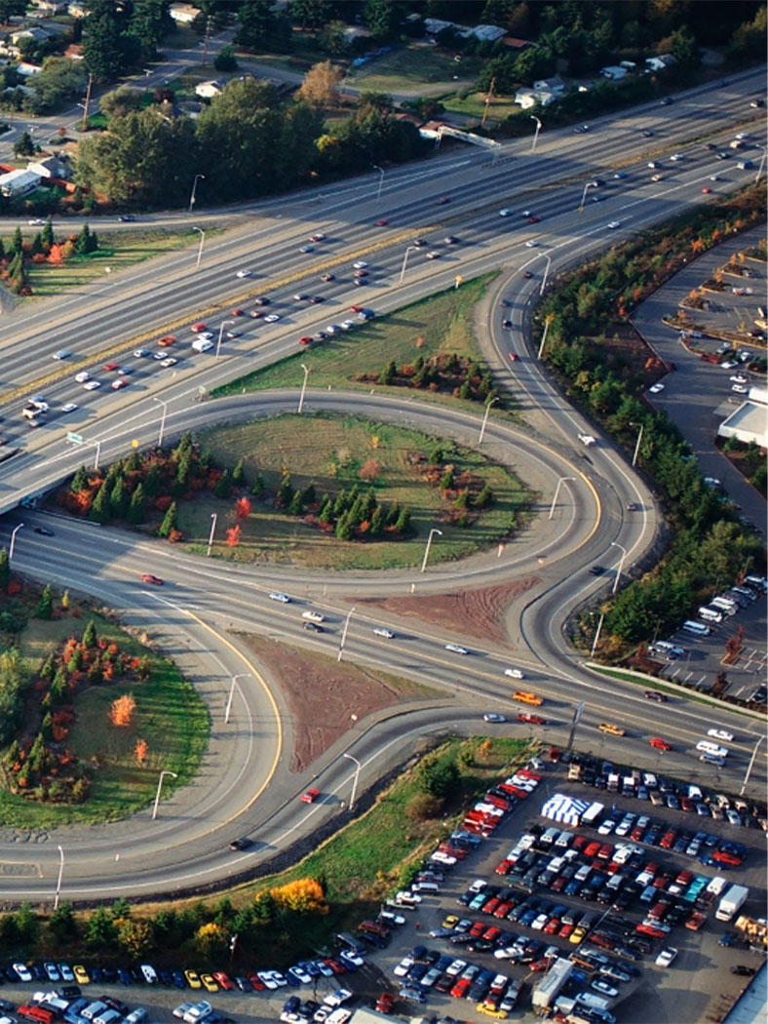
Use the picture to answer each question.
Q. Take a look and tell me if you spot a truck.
Yes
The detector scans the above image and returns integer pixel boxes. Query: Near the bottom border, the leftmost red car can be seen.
[21,1007,49,1023]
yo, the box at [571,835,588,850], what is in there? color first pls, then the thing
red car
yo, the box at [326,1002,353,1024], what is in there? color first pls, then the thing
white vehicle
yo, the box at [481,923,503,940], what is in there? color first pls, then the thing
red car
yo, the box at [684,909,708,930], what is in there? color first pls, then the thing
red truck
